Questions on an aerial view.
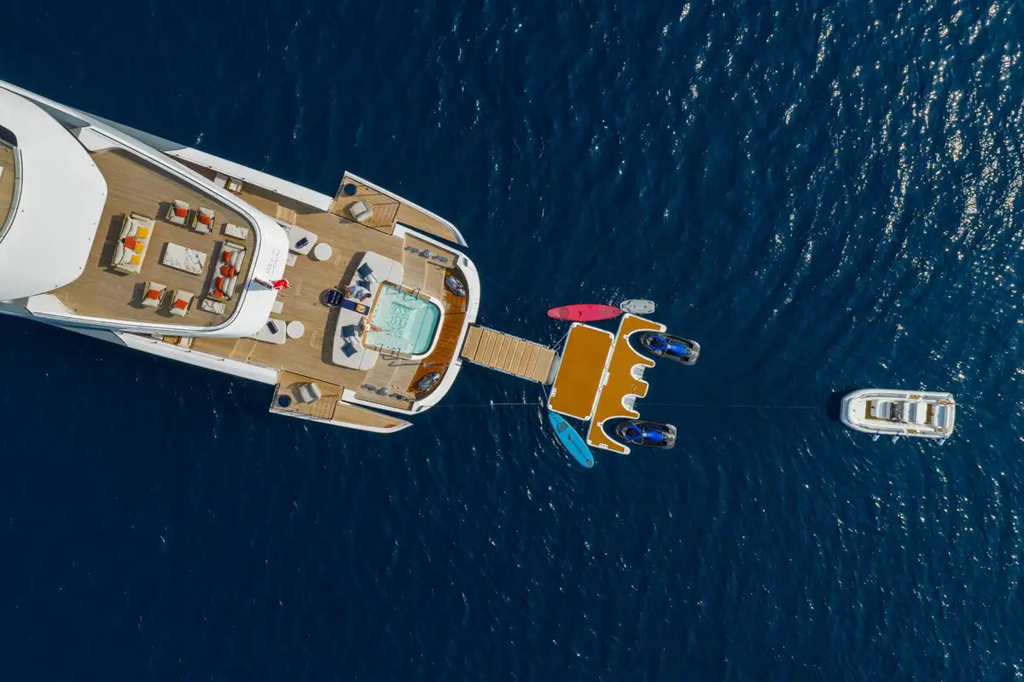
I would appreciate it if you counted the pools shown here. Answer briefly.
1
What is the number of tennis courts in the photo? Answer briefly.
0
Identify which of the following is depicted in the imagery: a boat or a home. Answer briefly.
boat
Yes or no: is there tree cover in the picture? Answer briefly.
No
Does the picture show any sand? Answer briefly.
No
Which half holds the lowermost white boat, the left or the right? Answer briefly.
right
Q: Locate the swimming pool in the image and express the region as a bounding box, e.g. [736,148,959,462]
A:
[362,280,445,360]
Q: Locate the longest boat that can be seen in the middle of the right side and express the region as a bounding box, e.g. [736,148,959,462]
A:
[842,387,967,438]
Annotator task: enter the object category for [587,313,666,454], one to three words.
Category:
pier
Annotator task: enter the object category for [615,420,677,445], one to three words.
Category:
boat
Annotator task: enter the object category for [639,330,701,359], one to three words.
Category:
boat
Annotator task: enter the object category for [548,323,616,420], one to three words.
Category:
pier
